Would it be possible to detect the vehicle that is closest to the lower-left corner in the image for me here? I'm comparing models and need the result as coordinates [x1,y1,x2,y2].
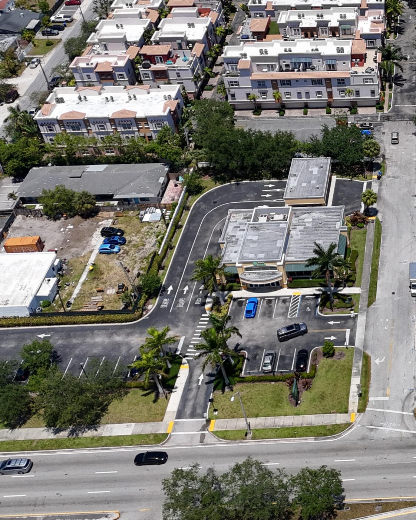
[0,458,34,475]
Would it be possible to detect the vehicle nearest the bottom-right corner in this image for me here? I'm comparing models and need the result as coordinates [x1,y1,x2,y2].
[293,350,310,371]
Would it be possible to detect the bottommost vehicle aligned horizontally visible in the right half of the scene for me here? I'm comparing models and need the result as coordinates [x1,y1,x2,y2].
[277,322,311,341]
